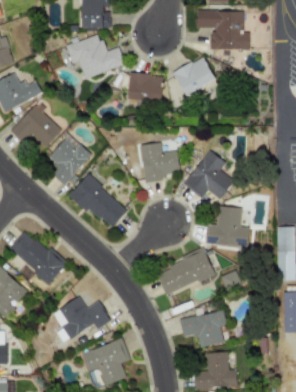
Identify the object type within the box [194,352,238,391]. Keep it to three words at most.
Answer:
house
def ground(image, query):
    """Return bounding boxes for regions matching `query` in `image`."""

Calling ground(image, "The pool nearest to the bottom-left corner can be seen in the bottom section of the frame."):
[62,364,80,383]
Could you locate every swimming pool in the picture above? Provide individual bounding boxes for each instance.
[194,287,216,302]
[50,2,62,27]
[234,301,249,321]
[60,72,78,86]
[100,106,119,116]
[75,126,96,144]
[246,54,266,72]
[232,135,246,162]
[254,200,266,224]
[62,364,80,383]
